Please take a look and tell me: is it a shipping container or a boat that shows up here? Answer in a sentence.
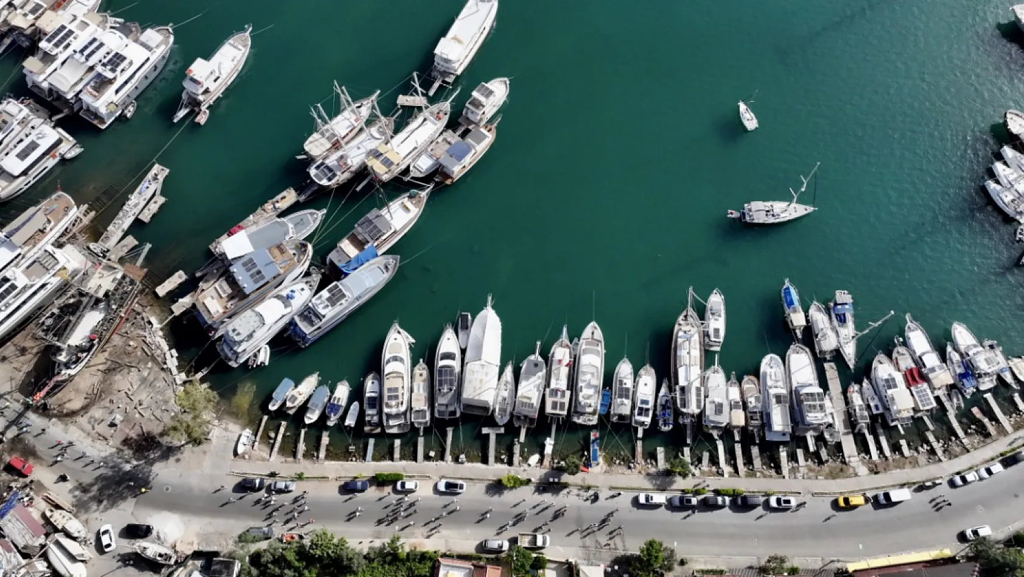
It is a boat that can be seen here.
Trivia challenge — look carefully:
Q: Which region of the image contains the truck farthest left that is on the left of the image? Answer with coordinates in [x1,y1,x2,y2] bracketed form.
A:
[7,453,34,478]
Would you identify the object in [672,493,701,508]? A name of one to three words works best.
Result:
car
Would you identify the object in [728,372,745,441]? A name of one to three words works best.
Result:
boat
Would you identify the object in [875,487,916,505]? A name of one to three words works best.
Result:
vehicle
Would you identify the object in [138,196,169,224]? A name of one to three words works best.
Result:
pier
